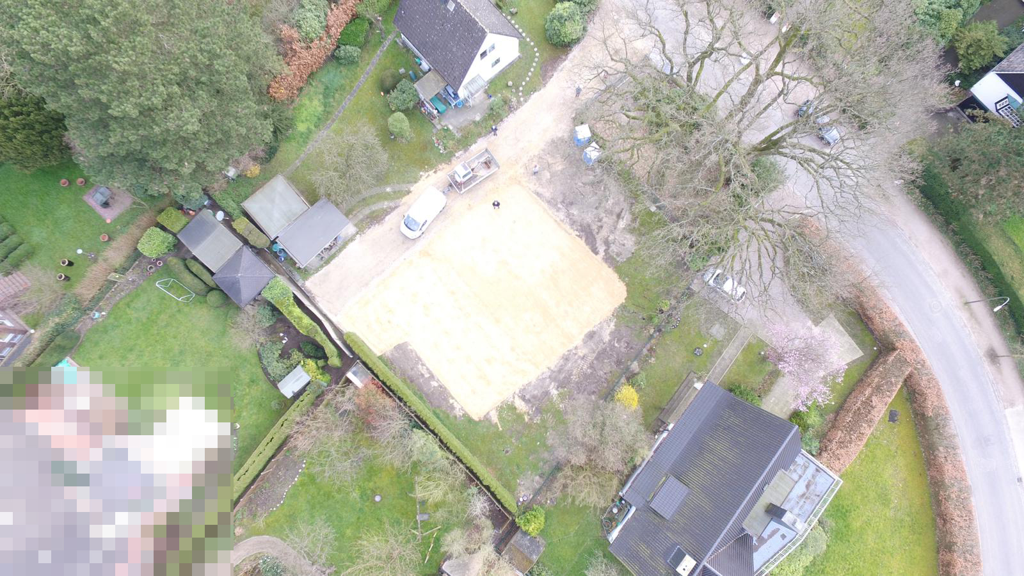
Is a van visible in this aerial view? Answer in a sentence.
Yes, the frame does contain a van.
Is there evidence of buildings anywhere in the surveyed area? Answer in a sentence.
Yes, a building can be made out from above.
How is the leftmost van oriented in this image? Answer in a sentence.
The leftmost van runs diagonally in the image.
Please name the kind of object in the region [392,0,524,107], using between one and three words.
house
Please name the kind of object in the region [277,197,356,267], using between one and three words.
shed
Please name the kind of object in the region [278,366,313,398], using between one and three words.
shed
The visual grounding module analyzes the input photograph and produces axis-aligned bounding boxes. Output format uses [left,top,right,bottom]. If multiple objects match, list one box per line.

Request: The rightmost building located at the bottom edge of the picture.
[602,382,844,576]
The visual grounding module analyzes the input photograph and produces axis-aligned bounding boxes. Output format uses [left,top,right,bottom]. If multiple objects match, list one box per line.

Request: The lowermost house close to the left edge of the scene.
[0,406,172,576]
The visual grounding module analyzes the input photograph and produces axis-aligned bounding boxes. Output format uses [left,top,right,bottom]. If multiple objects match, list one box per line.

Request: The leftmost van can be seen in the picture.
[396,181,454,244]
